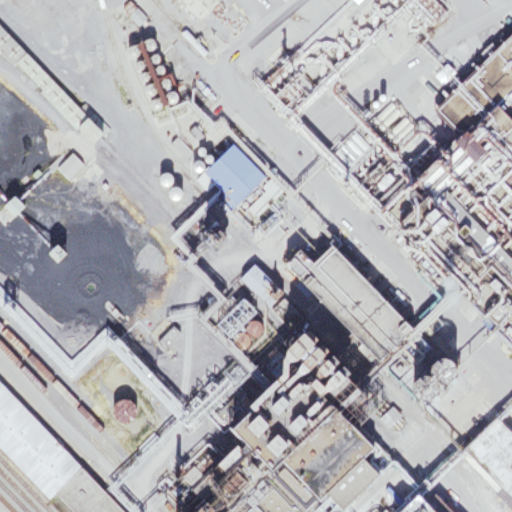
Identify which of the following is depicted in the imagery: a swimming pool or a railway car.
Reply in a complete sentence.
The image shows a railway car.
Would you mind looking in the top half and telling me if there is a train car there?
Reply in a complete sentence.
No, I can find no train car in the top half.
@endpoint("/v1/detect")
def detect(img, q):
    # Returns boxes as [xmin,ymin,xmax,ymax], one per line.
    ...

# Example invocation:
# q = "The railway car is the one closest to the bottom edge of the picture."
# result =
[77,404,106,432]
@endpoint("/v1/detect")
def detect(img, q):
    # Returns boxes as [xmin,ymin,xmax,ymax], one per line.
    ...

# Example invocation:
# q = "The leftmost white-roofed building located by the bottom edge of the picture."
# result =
[0,387,80,501]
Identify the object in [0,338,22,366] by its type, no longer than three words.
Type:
rail car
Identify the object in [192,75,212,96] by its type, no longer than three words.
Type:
vehicle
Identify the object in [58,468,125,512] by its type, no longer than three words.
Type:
building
